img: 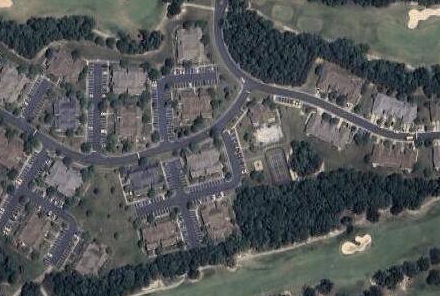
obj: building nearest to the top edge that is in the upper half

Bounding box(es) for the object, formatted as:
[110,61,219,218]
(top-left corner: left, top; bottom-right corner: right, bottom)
[175,26,205,64]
